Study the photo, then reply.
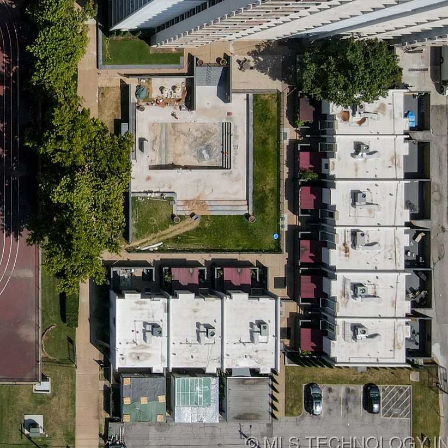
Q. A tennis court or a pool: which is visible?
pool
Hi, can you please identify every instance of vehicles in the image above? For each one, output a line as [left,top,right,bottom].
[307,384,323,413]
[439,46,448,94]
[365,383,380,412]
[109,421,128,448]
